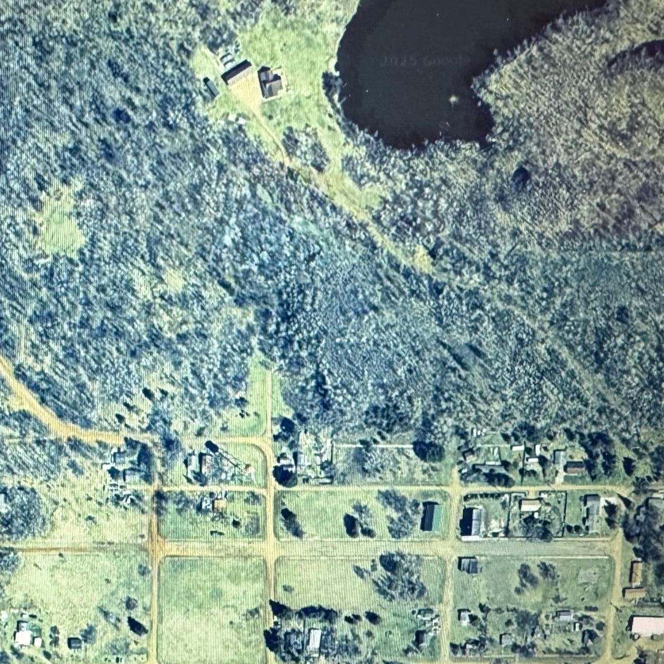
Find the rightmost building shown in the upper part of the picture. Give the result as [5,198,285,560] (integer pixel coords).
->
[261,72,284,98]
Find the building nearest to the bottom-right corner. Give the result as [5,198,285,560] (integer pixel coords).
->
[632,618,664,637]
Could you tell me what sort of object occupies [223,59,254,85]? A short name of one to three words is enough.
barn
